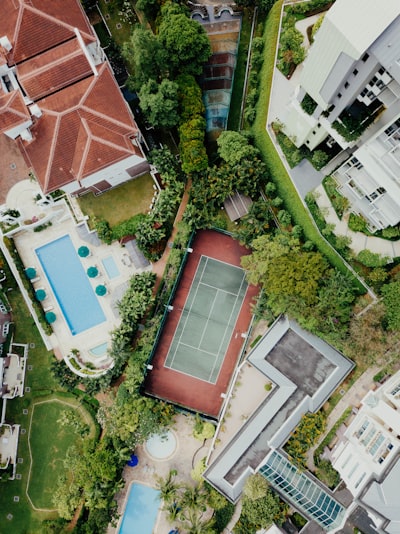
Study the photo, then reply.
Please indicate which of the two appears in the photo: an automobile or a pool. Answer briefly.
pool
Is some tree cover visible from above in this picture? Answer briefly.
Yes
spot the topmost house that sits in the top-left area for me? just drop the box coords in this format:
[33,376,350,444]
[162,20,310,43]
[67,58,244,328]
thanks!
[0,0,150,201]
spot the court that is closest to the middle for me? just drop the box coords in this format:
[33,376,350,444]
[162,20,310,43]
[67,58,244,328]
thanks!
[146,229,260,419]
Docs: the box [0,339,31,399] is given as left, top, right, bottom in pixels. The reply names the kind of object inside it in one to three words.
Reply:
house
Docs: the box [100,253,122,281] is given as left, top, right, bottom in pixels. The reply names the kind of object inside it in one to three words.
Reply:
swimming pool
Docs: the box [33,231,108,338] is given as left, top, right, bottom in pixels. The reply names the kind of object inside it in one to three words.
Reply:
swimming pool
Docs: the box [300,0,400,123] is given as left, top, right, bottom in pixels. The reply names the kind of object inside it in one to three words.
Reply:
building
